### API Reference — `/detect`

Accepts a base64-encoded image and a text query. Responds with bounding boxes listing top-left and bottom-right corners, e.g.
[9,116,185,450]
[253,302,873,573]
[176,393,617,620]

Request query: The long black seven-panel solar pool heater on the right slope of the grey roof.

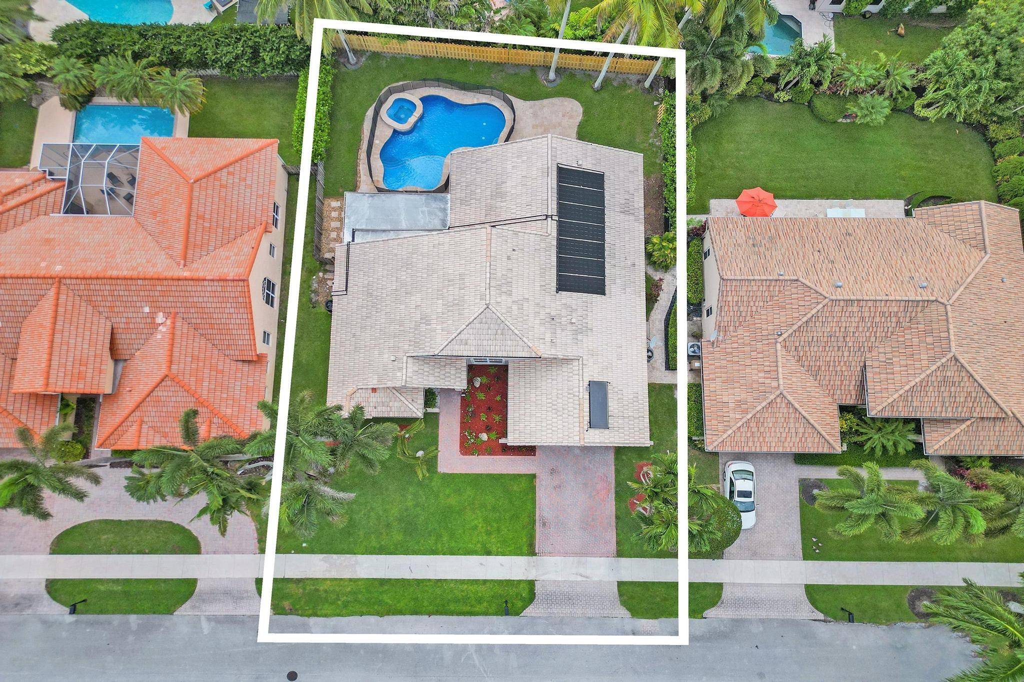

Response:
[557,164,607,296]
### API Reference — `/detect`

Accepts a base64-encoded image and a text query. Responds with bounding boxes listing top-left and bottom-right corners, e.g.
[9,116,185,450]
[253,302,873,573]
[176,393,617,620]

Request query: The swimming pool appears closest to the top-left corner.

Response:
[70,0,172,24]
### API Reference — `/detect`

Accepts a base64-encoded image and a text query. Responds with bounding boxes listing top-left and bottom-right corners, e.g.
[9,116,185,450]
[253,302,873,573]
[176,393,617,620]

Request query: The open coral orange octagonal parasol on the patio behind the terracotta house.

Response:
[734,185,774,216]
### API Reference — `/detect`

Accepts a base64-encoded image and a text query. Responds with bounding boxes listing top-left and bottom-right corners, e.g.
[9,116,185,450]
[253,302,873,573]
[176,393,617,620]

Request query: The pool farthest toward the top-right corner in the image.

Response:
[749,9,803,56]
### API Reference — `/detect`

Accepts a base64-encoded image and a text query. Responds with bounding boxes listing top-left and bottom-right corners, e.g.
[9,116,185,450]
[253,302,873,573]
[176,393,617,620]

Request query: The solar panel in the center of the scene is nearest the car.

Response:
[586,381,613,432]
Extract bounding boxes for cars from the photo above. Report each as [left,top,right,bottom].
[728,461,764,531]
